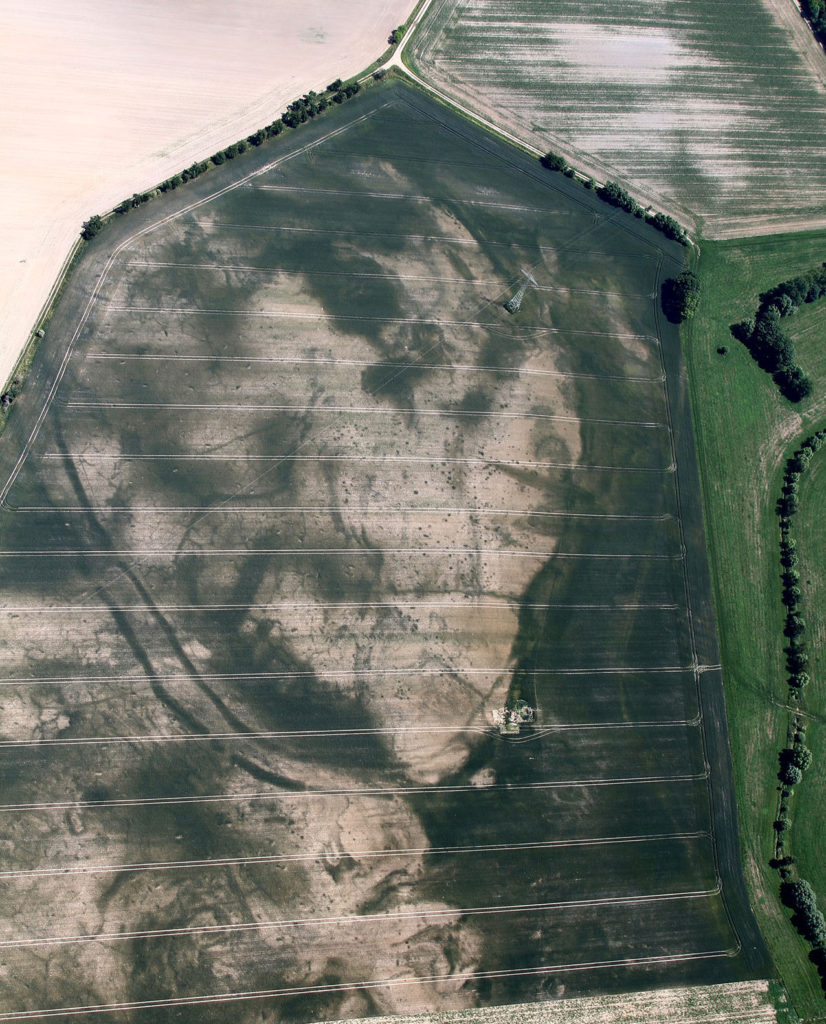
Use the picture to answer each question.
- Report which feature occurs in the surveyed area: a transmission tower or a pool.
transmission tower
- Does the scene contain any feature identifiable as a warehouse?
No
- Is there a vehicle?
No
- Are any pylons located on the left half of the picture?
No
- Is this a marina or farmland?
farmland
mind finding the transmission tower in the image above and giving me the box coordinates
[503,268,538,315]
